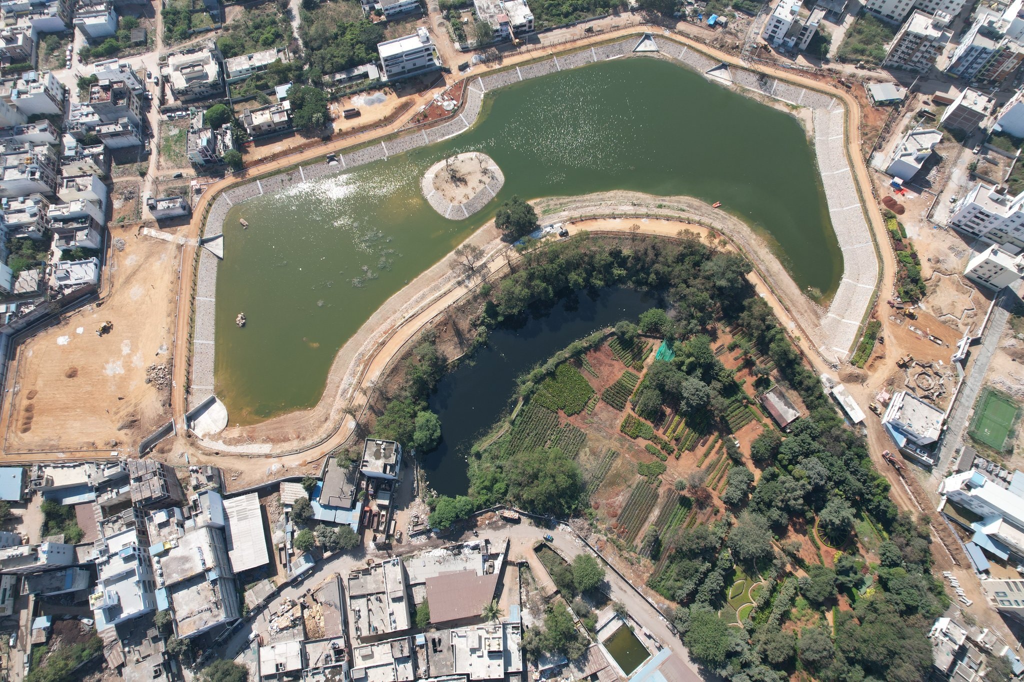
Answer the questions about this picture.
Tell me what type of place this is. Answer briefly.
residential area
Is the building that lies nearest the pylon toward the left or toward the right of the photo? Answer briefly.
right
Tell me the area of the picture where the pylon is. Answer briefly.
top right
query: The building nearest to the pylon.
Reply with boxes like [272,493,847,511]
[761,0,802,50]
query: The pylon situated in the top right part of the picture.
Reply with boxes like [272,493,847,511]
[735,0,775,62]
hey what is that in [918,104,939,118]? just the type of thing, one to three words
vehicle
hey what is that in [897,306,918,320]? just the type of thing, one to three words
work vehicle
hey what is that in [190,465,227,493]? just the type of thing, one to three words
house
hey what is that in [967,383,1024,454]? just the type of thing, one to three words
sports court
